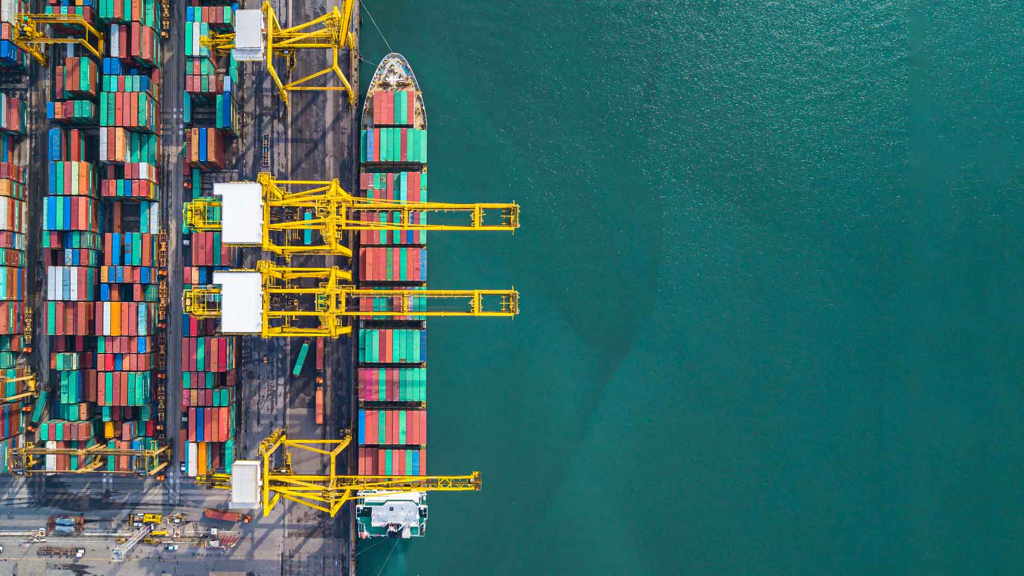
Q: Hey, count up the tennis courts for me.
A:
0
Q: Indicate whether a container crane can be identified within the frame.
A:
Yes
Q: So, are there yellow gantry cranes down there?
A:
Yes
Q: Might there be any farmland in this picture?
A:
No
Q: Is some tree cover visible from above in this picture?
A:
No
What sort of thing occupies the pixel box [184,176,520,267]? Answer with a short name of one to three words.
container crane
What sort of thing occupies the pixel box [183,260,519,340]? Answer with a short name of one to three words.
container crane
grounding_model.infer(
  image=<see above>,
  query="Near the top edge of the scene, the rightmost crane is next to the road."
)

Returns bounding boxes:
[196,0,356,115]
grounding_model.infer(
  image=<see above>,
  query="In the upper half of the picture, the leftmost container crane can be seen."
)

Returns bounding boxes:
[18,14,112,62]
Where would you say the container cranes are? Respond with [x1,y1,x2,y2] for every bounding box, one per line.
[196,0,356,115]
[82,435,175,473]
[184,176,520,267]
[183,260,519,340]
[9,434,106,472]
[0,368,39,398]
[18,14,112,62]
[192,423,480,517]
